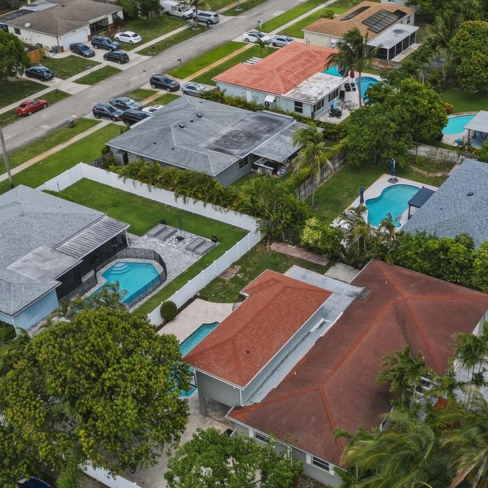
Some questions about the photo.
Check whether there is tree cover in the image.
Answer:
Yes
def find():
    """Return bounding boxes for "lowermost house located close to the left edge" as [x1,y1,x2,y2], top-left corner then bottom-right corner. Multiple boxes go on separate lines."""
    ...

[0,184,134,335]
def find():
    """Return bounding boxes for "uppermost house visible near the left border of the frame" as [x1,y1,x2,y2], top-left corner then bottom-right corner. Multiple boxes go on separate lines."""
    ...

[0,0,131,53]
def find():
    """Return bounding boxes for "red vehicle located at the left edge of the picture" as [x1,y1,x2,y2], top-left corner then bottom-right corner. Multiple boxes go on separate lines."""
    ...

[11,100,52,120]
